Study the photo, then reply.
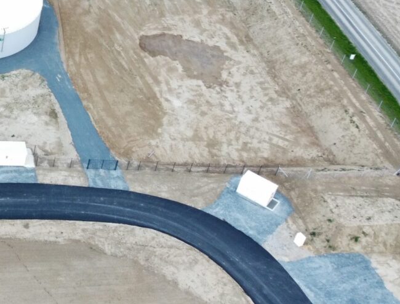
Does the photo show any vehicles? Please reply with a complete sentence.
No, I find no vehicle anywhere in the image.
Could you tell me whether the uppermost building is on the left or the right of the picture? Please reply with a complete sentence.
The uppermost building appears in the left half of the scene.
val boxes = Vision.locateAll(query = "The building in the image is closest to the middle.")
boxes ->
[236,172,280,211]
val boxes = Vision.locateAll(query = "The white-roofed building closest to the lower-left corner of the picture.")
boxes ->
[0,142,31,165]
